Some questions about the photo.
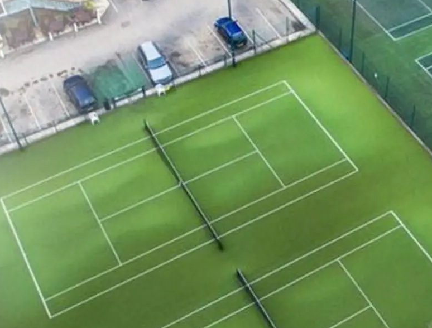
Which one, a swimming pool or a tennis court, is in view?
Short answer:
tennis court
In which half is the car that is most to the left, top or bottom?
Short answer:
top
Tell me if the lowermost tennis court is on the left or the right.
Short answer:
right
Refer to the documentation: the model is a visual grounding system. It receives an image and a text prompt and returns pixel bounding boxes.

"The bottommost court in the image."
[167,211,432,328]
